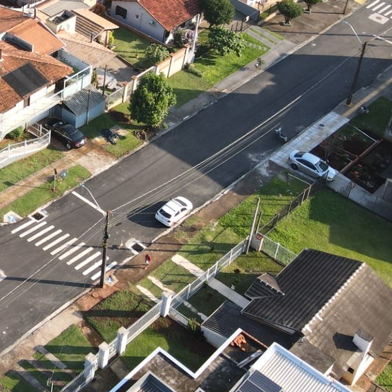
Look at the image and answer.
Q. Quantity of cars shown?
3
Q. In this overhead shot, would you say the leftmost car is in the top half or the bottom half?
top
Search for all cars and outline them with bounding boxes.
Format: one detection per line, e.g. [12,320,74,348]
[288,149,337,180]
[47,117,89,144]
[152,197,195,228]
